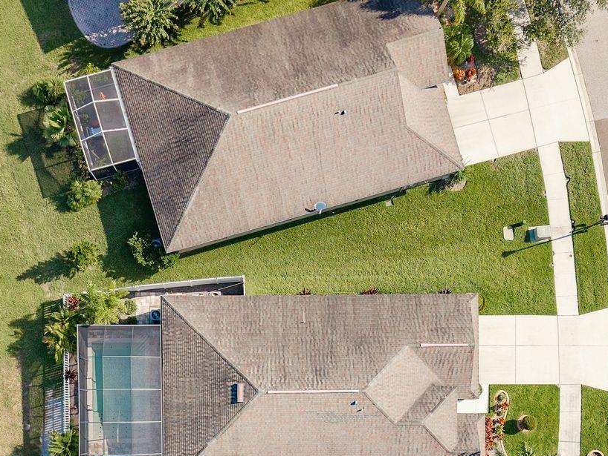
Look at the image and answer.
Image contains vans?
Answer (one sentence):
No, I can't see a single van in this photo.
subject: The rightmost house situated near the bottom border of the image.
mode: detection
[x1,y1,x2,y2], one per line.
[160,294,487,456]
